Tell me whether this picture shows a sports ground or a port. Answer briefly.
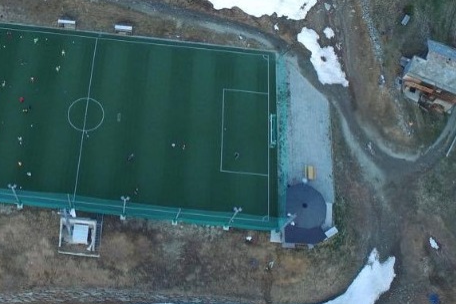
sports ground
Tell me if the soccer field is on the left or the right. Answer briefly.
left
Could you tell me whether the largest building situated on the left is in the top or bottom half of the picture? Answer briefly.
bottom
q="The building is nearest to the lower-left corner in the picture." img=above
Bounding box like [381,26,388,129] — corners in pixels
[69,222,89,248]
